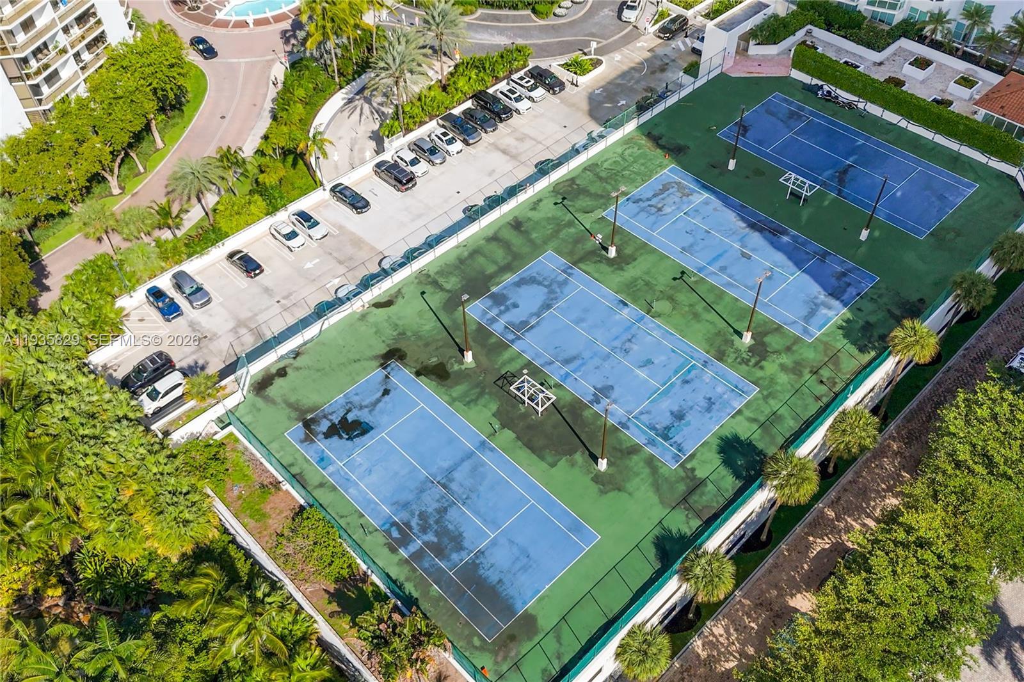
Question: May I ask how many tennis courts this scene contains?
four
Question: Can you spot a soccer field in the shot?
No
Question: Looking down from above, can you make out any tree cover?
Yes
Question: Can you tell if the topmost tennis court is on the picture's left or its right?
right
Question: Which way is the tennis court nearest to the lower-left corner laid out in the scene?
on a diagonal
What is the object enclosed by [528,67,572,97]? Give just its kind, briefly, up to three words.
truck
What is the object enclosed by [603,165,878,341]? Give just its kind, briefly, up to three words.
tennis court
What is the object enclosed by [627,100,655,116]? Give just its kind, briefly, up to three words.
car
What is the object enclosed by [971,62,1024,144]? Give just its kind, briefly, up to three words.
building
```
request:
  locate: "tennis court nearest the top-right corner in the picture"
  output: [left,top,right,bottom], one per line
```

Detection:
[719,93,977,238]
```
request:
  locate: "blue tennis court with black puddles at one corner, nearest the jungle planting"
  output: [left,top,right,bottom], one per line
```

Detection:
[286,360,600,641]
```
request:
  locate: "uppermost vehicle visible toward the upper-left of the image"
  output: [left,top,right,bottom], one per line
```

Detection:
[189,37,218,60]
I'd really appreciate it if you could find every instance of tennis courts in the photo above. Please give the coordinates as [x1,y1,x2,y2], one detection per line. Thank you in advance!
[286,360,600,641]
[603,165,878,341]
[719,93,977,238]
[465,250,758,469]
